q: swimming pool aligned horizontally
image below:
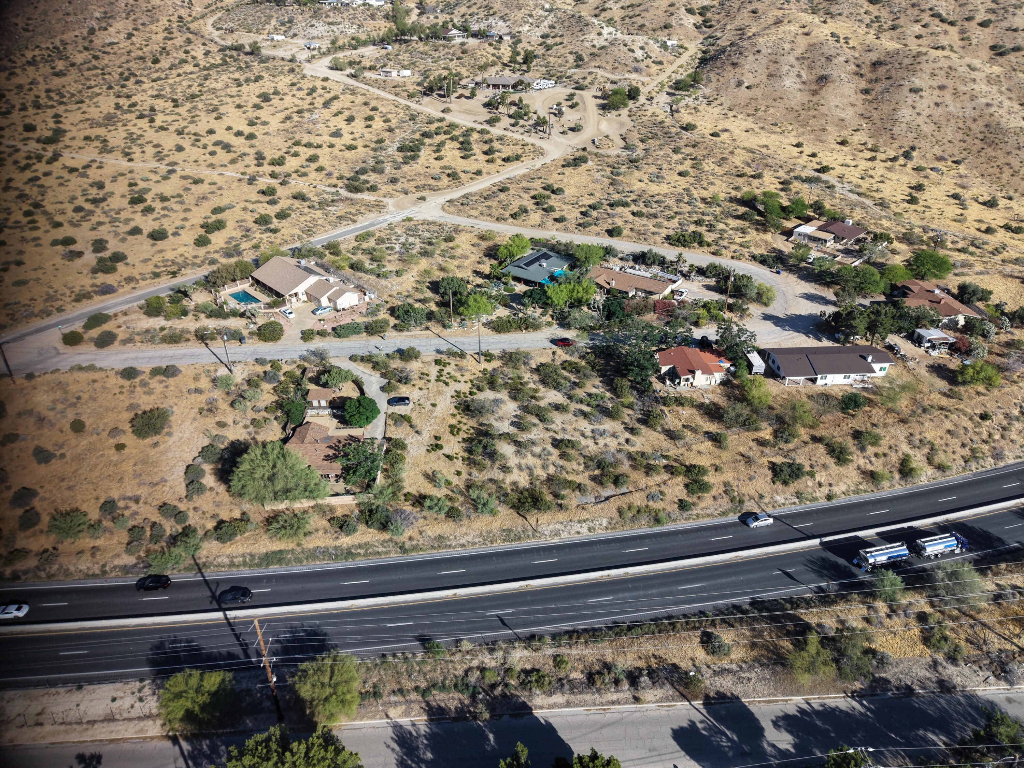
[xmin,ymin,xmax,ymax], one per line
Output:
[209,282,285,309]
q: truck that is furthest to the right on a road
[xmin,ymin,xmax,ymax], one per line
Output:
[908,526,971,558]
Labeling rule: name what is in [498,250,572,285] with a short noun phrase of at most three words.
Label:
building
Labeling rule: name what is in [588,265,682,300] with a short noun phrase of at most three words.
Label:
house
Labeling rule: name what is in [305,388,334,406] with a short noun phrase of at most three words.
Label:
shed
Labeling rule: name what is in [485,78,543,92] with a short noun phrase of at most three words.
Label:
house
